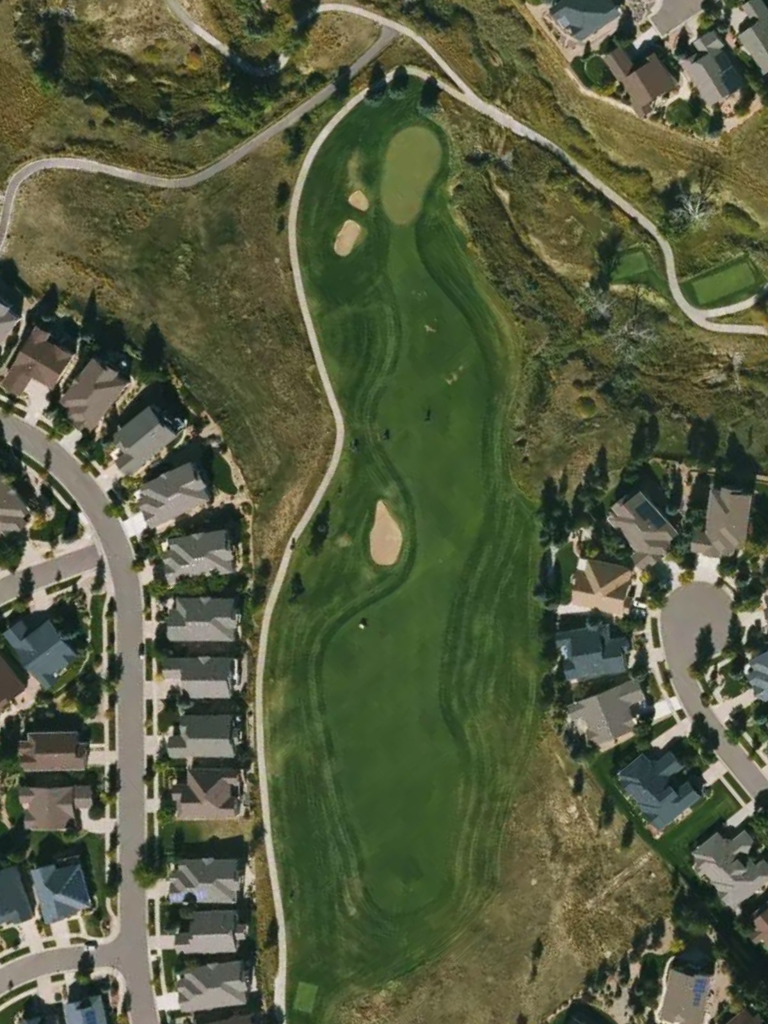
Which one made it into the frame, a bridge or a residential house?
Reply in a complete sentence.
It is a residential house that can be seen here.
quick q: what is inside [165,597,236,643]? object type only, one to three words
house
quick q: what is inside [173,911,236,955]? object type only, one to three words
house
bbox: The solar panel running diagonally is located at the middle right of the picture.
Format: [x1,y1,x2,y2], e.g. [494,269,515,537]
[639,502,664,527]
